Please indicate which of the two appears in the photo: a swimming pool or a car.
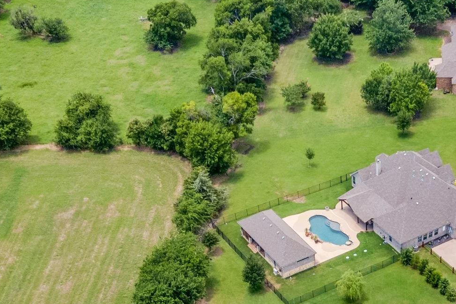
swimming pool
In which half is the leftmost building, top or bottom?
bottom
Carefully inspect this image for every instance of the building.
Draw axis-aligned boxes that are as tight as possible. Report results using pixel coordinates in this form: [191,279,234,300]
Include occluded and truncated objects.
[435,24,456,95]
[237,209,317,279]
[336,148,456,252]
